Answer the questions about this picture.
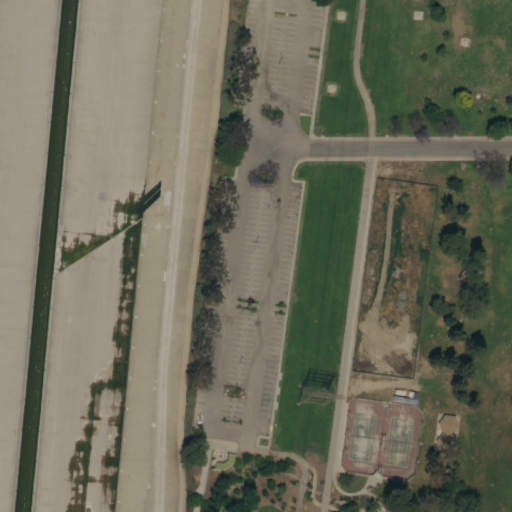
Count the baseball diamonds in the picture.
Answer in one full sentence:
No baseball diamonds are visible.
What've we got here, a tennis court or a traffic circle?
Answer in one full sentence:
The image shows a tennis court.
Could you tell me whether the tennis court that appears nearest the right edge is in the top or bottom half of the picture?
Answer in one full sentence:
The bottom half of the photo is where the tennis court that appears nearest the right edge is.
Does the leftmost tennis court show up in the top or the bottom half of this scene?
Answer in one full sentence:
You can find the leftmost tennis court in the bottom half.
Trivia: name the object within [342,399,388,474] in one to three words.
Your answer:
tennis court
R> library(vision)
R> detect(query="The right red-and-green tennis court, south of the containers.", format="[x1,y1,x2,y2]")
[380,404,424,478]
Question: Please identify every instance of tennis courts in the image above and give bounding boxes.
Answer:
[380,404,424,478]
[342,399,388,474]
